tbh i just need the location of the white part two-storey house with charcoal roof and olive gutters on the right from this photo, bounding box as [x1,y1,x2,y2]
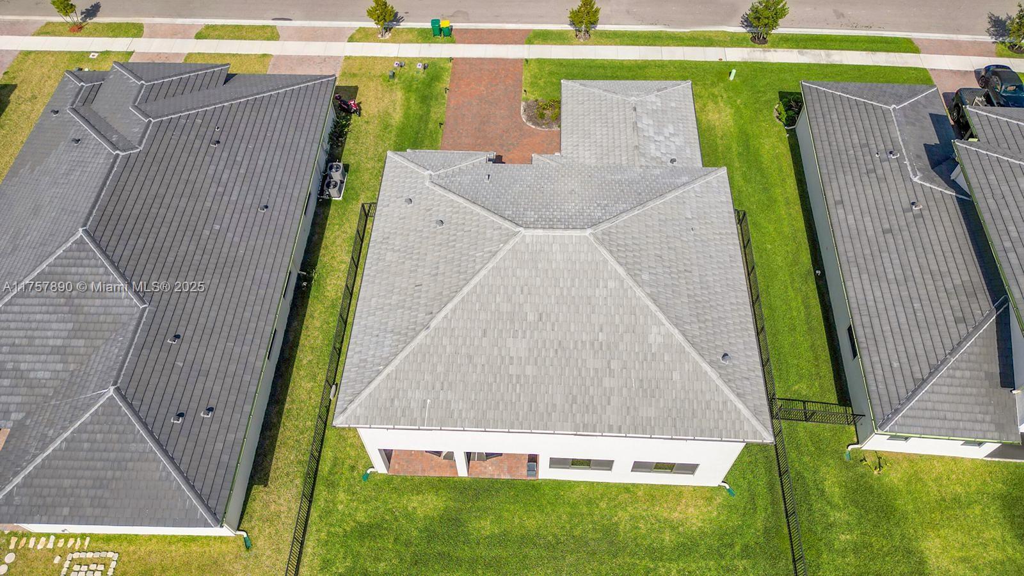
[789,79,1024,466]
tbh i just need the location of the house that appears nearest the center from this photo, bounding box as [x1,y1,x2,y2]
[333,79,774,505]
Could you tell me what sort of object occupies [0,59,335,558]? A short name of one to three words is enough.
house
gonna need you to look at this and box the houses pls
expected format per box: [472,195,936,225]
[789,79,1024,466]
[333,79,774,505]
[0,59,335,558]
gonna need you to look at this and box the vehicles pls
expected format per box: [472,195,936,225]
[955,89,998,134]
[333,83,361,111]
[982,65,1024,109]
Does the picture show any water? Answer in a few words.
No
